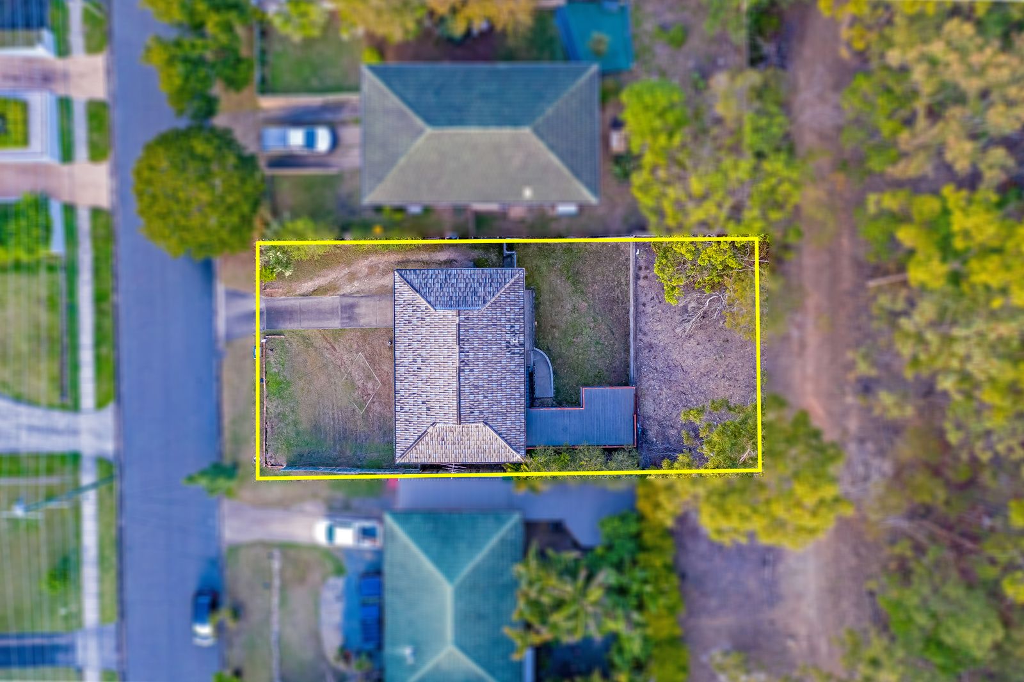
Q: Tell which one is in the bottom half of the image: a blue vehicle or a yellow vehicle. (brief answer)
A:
blue vehicle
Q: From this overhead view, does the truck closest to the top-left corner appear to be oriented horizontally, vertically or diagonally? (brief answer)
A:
horizontally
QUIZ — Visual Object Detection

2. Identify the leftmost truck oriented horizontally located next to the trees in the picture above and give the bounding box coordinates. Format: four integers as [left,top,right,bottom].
[260,122,334,155]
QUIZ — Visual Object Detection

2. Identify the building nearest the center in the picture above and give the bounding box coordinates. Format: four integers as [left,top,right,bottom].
[393,267,526,464]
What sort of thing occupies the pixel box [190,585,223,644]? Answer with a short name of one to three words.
car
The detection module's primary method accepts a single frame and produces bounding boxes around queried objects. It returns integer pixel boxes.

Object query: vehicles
[190,585,223,644]
[354,570,382,644]
[316,517,382,551]
[260,122,334,155]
